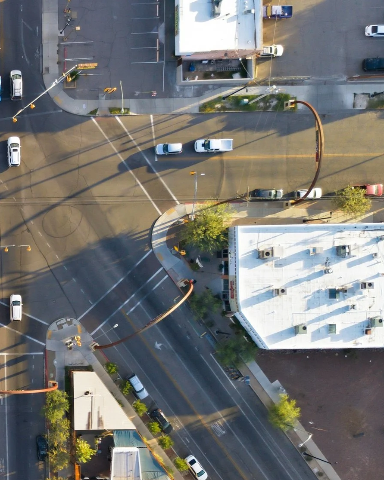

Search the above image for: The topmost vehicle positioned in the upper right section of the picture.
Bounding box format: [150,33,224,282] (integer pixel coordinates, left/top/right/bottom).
[263,3,297,19]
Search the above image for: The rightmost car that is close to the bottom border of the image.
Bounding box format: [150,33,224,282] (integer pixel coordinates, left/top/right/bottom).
[183,452,207,480]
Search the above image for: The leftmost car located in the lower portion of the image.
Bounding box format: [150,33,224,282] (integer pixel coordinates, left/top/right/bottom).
[8,293,21,321]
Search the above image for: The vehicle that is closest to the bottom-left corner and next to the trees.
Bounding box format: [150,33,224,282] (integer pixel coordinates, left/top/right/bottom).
[35,433,48,461]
